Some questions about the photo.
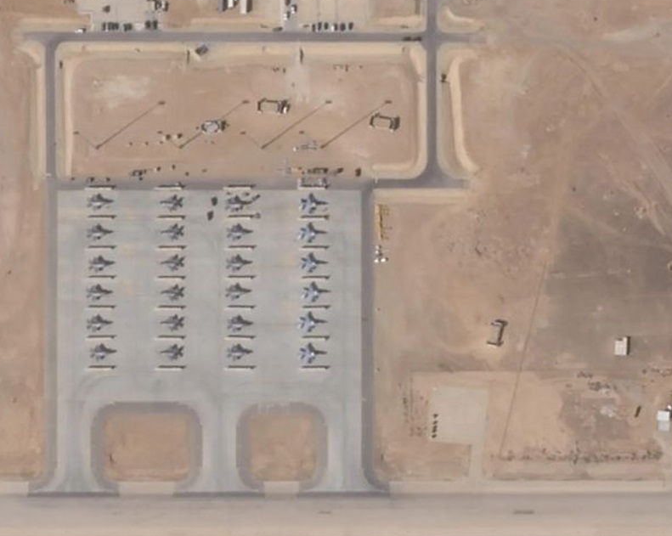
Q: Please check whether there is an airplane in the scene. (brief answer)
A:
Yes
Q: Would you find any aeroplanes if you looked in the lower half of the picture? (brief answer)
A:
Yes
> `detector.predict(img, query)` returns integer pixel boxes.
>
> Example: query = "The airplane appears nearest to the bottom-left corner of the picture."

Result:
[90,344,114,361]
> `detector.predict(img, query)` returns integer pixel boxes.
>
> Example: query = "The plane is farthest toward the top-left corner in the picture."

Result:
[87,194,109,210]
